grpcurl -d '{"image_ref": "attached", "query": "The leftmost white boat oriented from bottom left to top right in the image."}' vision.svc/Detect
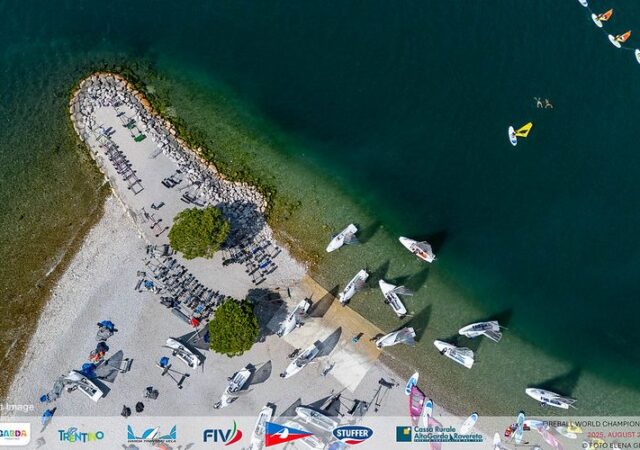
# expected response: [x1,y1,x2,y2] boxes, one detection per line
[216,368,256,408]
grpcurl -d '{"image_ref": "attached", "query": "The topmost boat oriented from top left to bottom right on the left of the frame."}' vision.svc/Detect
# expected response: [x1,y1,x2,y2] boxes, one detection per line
[155,339,206,375]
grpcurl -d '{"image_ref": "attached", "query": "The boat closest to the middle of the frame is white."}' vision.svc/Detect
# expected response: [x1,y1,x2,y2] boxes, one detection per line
[326,223,363,253]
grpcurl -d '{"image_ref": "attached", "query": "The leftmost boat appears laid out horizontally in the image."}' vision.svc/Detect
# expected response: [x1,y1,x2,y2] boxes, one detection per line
[43,372,106,408]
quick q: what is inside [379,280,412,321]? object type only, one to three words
boat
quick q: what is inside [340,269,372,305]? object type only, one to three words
boat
